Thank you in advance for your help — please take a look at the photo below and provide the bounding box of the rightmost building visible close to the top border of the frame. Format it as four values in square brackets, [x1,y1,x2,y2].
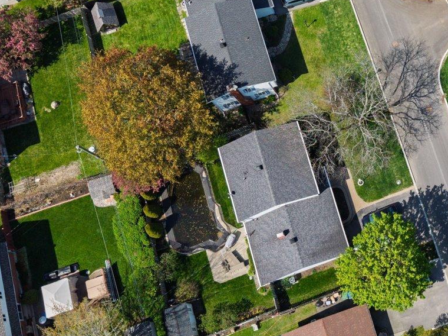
[184,0,280,109]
